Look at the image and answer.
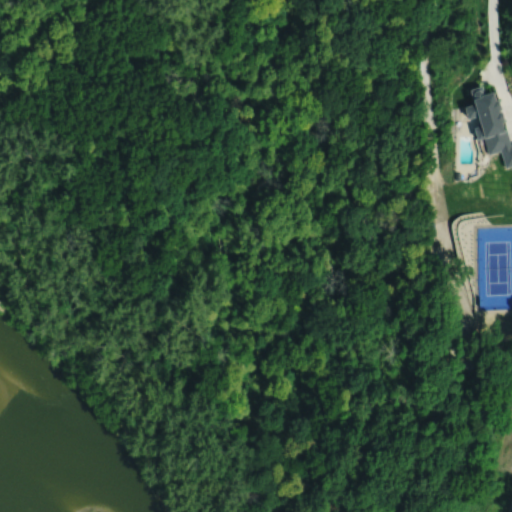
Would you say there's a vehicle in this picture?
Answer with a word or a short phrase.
No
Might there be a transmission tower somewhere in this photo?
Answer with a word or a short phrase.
No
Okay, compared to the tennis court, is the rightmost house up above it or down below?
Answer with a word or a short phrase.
above it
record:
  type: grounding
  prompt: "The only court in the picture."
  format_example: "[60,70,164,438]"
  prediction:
[474,226,512,314]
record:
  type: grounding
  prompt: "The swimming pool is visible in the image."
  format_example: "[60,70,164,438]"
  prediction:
[460,137,474,164]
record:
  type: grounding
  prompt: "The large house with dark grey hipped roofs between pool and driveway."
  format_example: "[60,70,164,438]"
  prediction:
[466,88,512,167]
